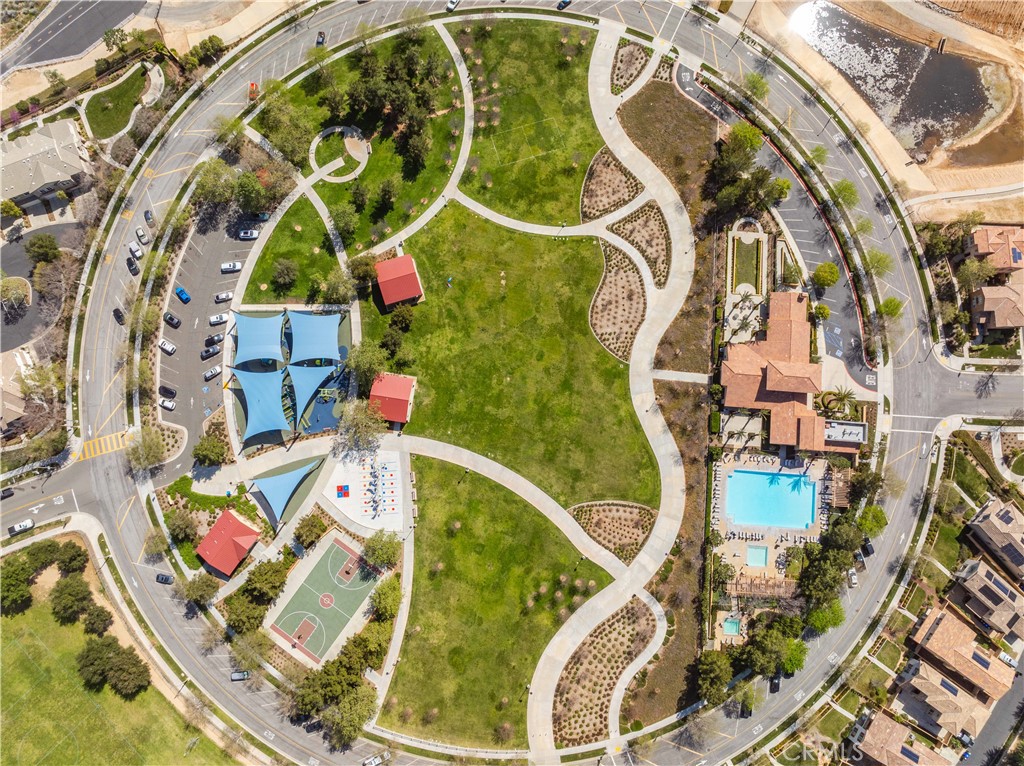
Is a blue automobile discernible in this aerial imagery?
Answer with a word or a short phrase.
Yes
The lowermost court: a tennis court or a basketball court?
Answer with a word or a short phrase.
basketball court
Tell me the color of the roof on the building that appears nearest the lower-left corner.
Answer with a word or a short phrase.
red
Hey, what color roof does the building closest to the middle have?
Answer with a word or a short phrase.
red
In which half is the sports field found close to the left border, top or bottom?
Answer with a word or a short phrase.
bottom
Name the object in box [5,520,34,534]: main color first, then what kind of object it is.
white vehicle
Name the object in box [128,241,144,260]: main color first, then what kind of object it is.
white car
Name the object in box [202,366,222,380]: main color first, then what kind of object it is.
white car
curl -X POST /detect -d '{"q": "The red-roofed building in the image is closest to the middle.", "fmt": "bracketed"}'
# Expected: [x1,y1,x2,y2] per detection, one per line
[374,373,419,426]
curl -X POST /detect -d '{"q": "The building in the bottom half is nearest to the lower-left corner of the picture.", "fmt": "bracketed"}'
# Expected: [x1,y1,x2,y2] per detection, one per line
[197,510,261,580]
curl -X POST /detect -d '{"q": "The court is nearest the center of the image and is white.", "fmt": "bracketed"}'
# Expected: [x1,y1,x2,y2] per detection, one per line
[324,451,403,532]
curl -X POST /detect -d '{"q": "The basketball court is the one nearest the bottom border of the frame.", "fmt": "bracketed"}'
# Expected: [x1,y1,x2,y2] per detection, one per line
[261,542,393,670]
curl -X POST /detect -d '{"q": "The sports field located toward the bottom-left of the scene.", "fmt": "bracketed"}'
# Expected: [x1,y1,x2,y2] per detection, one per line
[0,630,144,766]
